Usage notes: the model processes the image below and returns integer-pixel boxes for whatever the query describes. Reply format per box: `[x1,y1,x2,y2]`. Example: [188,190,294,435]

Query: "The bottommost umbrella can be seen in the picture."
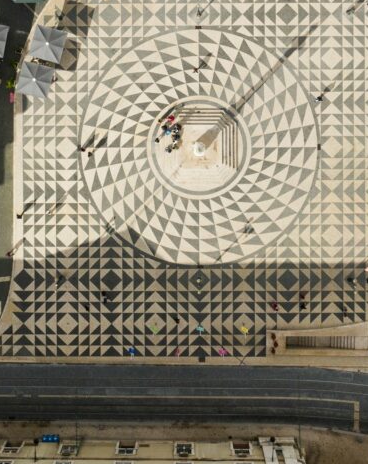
[15,60,54,99]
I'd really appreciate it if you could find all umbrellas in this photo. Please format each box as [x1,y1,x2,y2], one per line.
[15,60,54,99]
[28,25,67,63]
[0,25,9,57]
